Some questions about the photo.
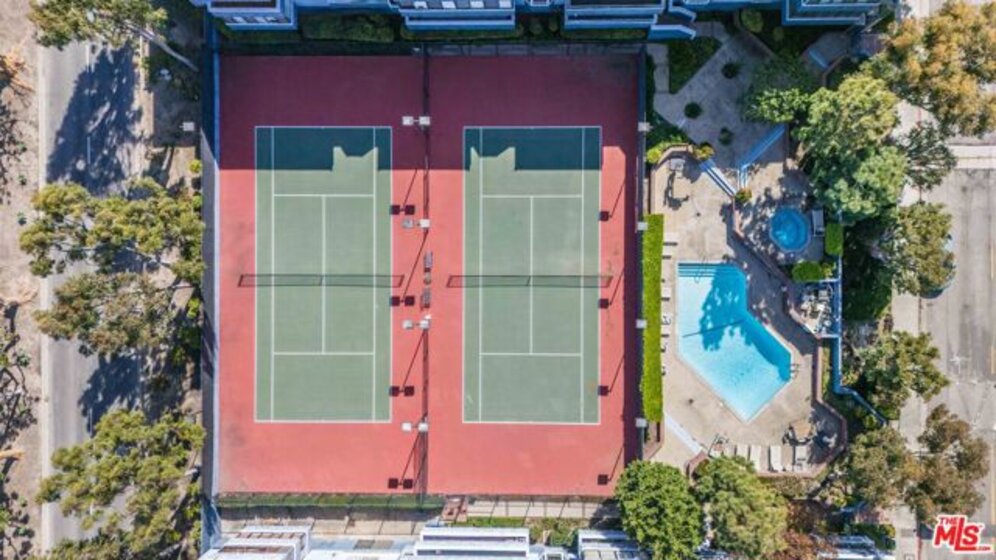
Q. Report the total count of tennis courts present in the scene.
two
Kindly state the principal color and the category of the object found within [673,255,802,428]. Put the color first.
blue swimming pool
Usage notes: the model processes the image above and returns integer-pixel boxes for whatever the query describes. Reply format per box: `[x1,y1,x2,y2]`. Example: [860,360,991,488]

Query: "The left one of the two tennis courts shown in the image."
[220,54,425,493]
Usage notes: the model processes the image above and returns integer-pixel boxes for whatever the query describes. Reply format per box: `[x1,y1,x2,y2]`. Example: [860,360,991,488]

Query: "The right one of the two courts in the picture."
[425,54,638,493]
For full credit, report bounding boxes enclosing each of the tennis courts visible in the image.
[220,54,425,493]
[425,54,638,493]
